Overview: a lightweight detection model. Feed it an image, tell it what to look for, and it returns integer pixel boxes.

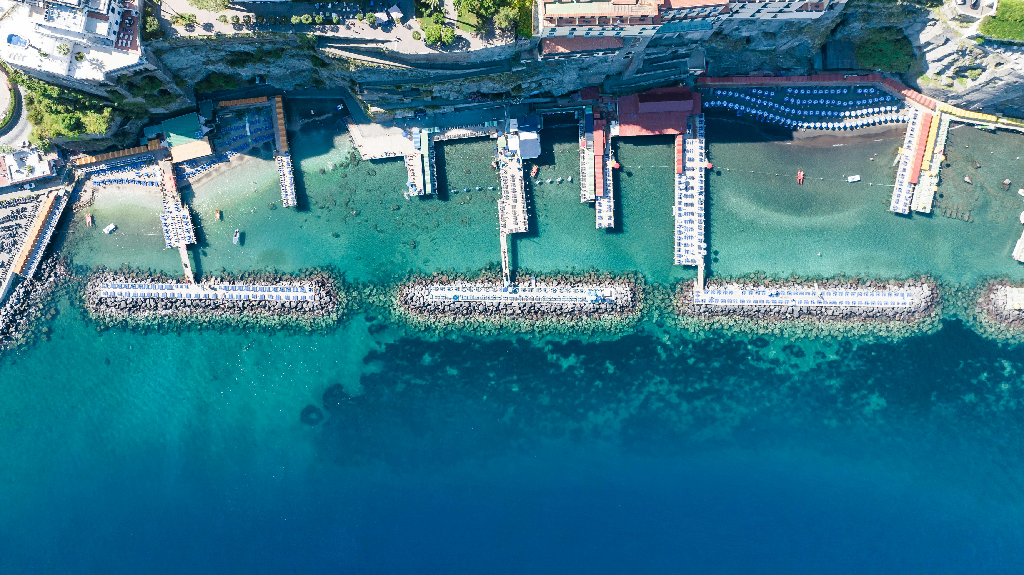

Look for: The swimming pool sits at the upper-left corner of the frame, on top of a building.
[6,33,33,50]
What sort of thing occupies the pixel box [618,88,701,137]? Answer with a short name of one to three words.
house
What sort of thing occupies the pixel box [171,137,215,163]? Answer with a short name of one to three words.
building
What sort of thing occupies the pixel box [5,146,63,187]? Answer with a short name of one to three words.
house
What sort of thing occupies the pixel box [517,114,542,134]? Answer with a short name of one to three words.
building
